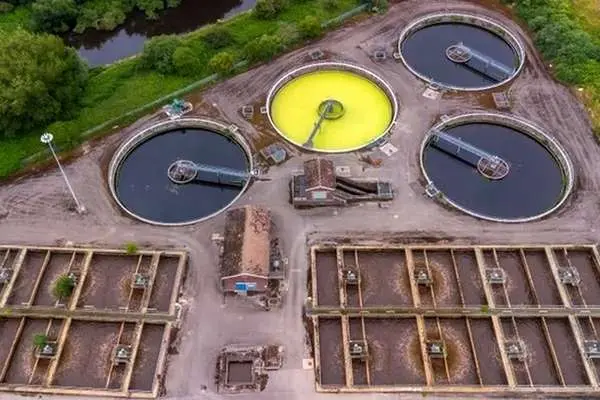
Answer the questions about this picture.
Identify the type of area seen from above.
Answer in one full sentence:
The area seen from above is an industrial area.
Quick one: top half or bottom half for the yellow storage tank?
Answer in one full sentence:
The yellow storage tank is in the top half of the image.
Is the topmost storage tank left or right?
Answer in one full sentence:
It is on the right.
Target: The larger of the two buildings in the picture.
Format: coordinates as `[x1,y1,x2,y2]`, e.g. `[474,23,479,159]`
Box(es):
[219,201,286,298]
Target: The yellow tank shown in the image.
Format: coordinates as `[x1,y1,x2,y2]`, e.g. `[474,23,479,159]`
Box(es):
[266,63,397,153]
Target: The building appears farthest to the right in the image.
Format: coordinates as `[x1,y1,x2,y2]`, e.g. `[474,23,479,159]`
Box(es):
[302,155,337,204]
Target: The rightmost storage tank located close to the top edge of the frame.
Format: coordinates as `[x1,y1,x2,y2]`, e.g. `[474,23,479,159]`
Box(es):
[398,14,524,93]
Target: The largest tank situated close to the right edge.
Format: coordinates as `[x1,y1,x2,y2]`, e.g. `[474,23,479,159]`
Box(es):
[420,113,572,224]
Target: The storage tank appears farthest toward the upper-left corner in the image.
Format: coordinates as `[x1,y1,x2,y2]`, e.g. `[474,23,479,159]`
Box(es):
[108,119,254,227]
